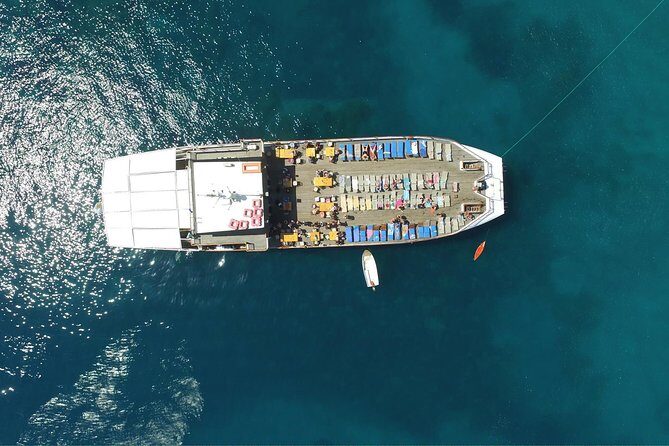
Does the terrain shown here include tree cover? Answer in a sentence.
No, there is no tree cover in the image.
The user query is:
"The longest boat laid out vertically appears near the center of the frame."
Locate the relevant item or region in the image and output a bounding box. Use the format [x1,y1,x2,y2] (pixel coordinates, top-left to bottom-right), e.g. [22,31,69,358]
[362,249,380,290]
